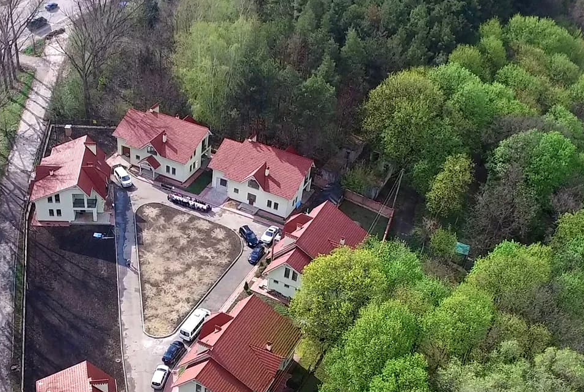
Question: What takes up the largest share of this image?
trees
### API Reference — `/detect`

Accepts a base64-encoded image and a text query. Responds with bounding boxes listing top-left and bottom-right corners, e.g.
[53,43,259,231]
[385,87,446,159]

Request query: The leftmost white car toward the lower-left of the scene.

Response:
[151,368,168,387]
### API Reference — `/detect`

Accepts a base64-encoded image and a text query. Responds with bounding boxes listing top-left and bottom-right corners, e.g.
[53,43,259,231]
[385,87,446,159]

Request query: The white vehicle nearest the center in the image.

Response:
[262,227,278,242]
